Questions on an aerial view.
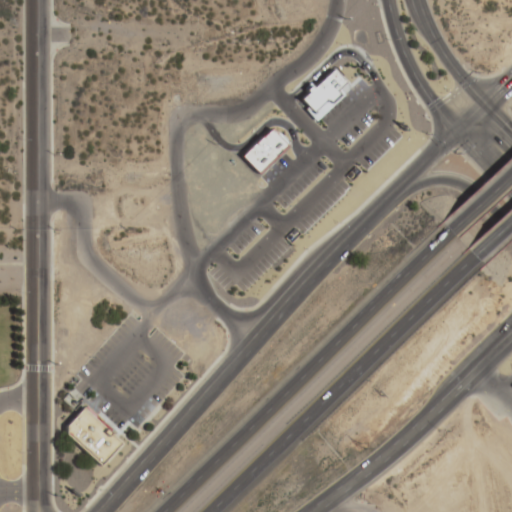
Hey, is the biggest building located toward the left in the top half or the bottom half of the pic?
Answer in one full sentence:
Seen from above, the biggest building located toward the left lies in the bottom half of the view.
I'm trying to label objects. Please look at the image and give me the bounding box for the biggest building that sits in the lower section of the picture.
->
[68,406,125,465]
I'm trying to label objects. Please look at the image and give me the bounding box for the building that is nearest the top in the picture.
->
[304,68,352,122]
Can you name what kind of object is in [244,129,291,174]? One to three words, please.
building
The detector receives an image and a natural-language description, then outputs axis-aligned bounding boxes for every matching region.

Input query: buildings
[68,406,125,465]
[244,129,291,174]
[304,68,352,122]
